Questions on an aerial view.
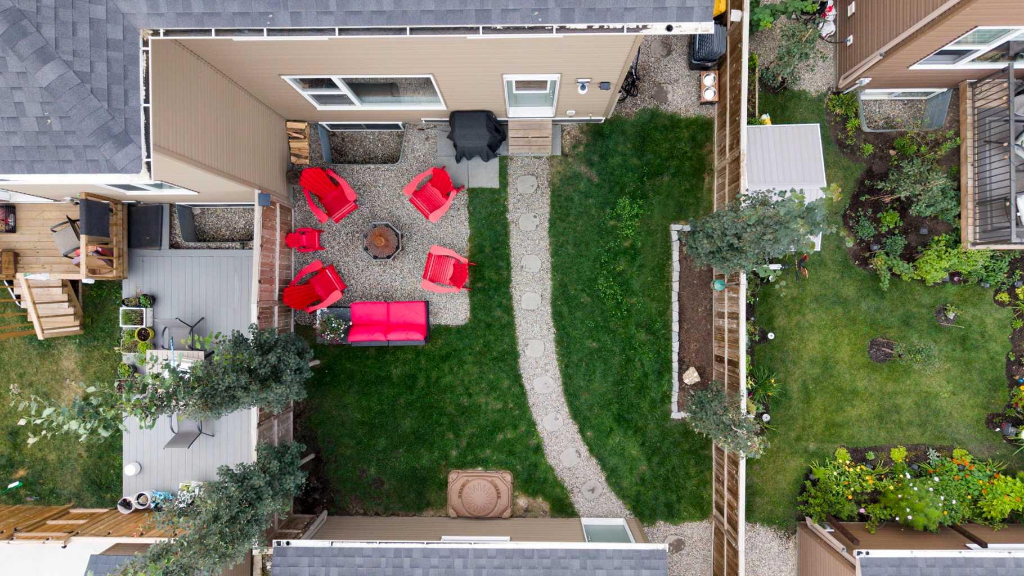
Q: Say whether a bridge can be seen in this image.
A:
No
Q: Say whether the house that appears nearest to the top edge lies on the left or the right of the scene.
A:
right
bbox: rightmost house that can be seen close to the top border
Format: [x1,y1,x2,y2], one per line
[839,0,1024,102]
